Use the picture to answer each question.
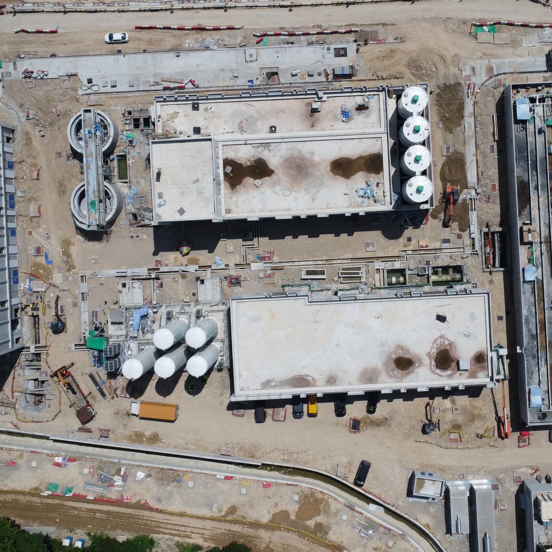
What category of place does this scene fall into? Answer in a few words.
industrial area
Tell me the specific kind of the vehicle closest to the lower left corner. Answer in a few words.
truck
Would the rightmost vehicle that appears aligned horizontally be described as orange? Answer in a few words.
Yes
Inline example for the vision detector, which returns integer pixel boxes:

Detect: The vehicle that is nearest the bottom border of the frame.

[353,457,371,486]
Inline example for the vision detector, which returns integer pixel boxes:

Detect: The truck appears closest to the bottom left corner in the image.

[44,362,97,424]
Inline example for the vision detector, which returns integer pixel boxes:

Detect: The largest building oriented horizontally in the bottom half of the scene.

[231,281,509,401]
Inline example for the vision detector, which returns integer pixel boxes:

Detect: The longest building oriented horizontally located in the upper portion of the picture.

[150,86,433,225]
